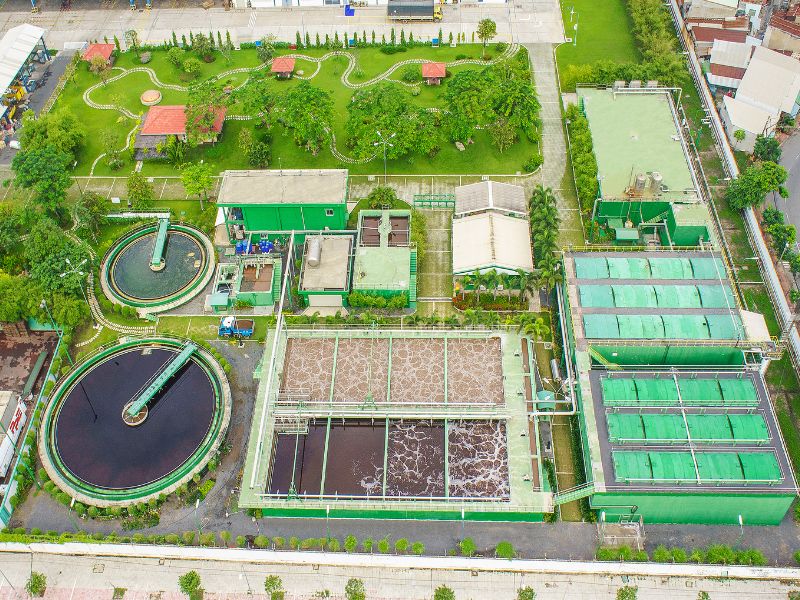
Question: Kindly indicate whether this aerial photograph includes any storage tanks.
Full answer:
Yes, a storage tank appears in the view.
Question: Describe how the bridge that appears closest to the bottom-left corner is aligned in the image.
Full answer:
Seen from above, the bridge that appears closest to the bottom-left corner lies diagonally.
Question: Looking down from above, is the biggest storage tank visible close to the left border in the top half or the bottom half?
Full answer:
Seen from above, the biggest storage tank visible close to the left border lies in the bottom half of the view.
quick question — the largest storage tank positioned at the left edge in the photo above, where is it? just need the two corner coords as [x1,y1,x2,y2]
[30,330,236,509]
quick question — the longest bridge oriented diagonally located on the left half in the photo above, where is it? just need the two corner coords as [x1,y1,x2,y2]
[124,345,199,419]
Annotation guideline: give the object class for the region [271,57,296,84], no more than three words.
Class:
building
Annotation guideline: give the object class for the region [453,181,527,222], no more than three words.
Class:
shed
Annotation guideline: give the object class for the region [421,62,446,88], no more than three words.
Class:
building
